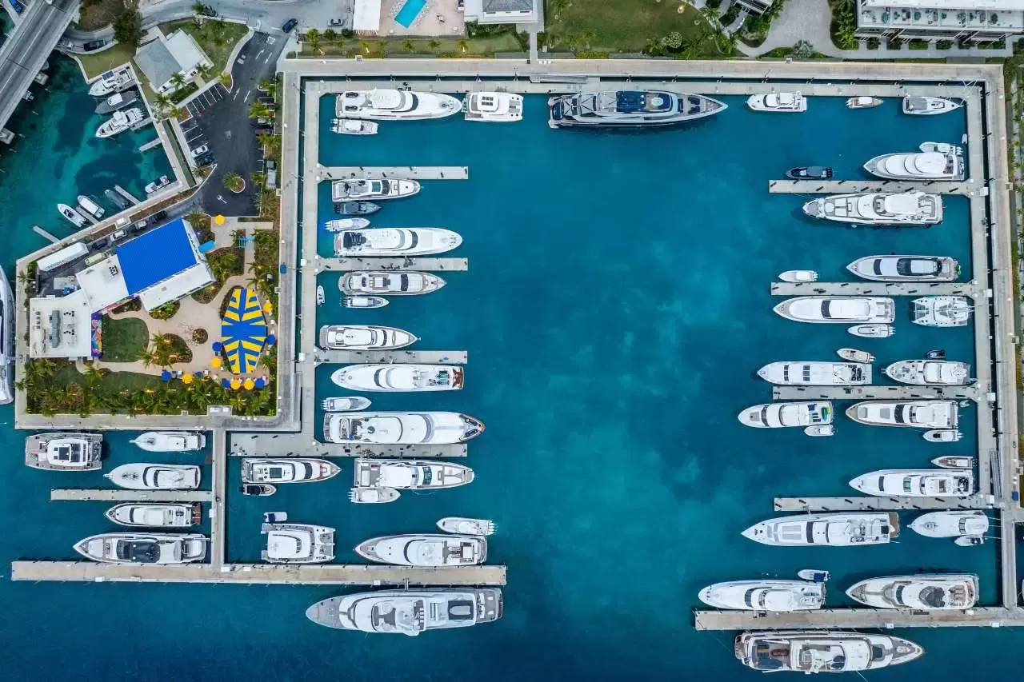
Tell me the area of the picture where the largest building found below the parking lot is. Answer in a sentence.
Look in the left portion of the view to spot the largest building found below the parking lot.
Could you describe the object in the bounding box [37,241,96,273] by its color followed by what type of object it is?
white truck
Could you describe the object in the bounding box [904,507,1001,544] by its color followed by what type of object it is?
white boat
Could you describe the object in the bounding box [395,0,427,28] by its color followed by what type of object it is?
blue swimming pool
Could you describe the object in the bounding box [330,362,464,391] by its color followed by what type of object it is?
white boat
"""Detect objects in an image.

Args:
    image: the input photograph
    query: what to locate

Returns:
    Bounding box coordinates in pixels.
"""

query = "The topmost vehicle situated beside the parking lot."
[282,18,297,33]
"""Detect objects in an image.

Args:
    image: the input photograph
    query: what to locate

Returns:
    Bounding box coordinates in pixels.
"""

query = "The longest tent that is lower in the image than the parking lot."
[222,288,268,373]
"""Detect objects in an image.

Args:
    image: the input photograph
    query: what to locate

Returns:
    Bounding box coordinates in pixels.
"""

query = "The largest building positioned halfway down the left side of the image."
[29,217,219,360]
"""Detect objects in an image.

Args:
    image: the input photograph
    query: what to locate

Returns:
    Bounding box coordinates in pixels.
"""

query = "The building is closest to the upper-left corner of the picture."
[133,29,215,97]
